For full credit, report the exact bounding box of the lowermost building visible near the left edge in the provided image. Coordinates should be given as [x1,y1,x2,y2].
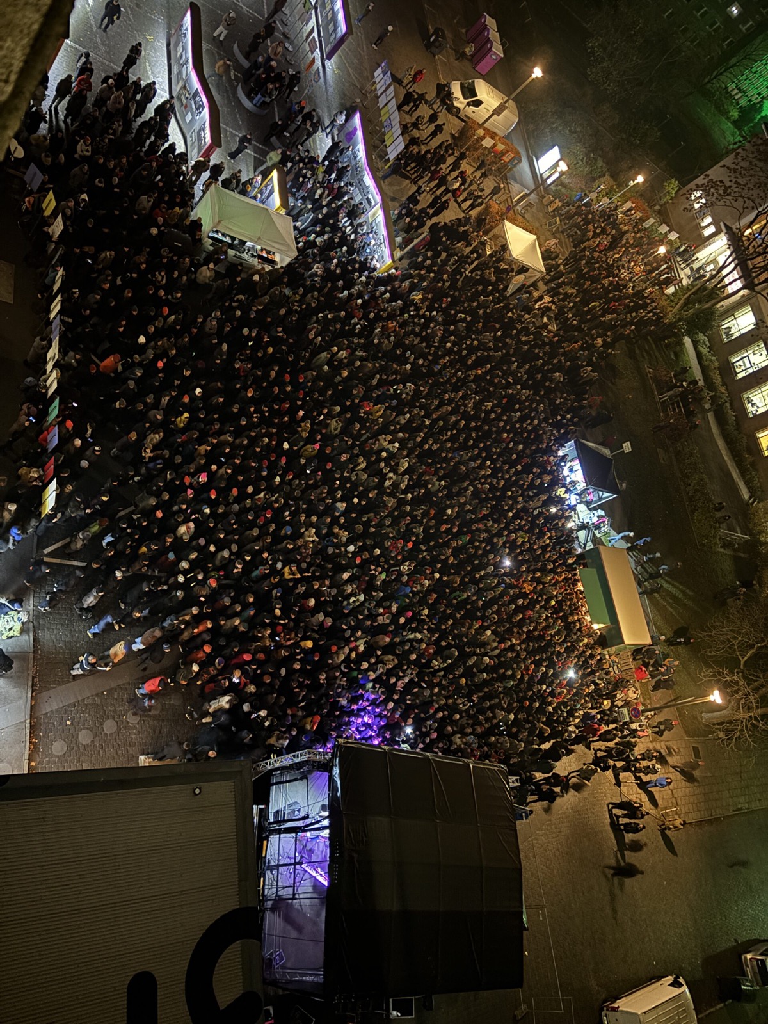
[0,762,262,1024]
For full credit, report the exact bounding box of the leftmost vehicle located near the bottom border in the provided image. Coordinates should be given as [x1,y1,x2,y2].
[610,978,698,1024]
